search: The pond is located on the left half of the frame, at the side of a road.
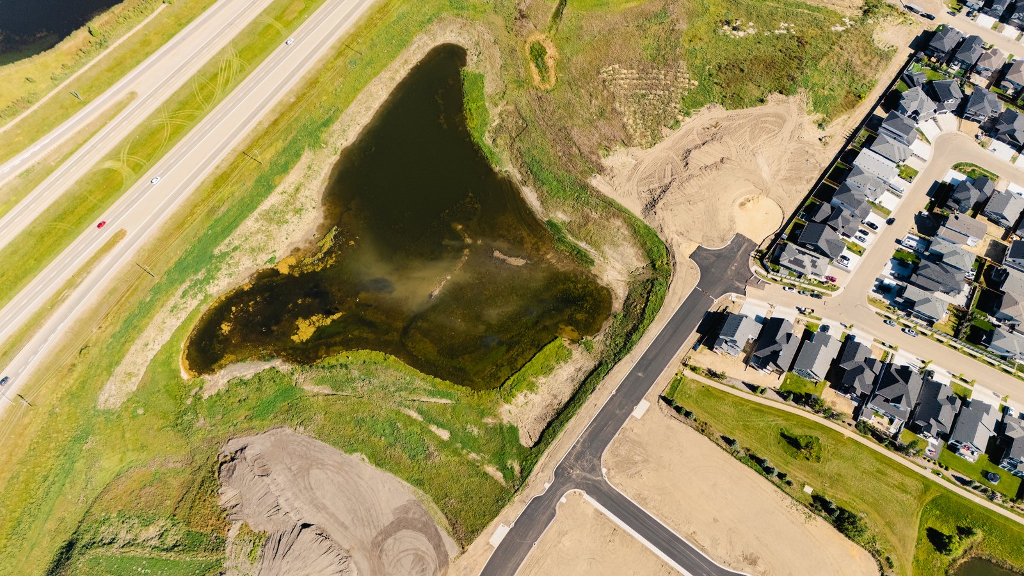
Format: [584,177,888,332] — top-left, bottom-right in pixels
[185,43,613,389]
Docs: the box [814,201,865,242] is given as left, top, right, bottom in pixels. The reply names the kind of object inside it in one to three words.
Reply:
house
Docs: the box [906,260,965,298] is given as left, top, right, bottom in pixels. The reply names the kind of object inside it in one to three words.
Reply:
house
